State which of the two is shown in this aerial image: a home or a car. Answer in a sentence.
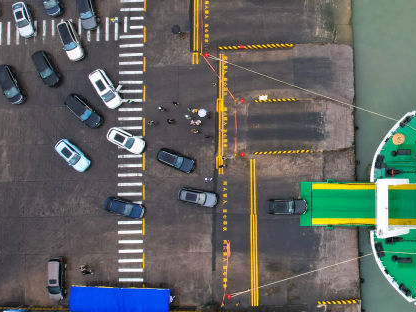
It is a car that can be seen here.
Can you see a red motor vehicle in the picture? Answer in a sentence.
No, the photo shows no red motor vehicle.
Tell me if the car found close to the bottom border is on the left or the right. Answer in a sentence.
The car found close to the bottom border sits on the left side.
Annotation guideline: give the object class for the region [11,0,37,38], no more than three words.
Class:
car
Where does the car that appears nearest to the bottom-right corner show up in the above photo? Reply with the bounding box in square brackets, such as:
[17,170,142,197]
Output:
[267,198,307,216]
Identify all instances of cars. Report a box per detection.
[41,0,63,16]
[0,65,24,105]
[57,20,85,61]
[104,126,146,155]
[63,93,103,128]
[45,259,66,299]
[11,0,37,38]
[53,138,91,172]
[178,187,218,207]
[155,148,195,173]
[89,68,121,109]
[267,198,307,216]
[29,48,61,87]
[74,0,99,29]
[104,197,145,219]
